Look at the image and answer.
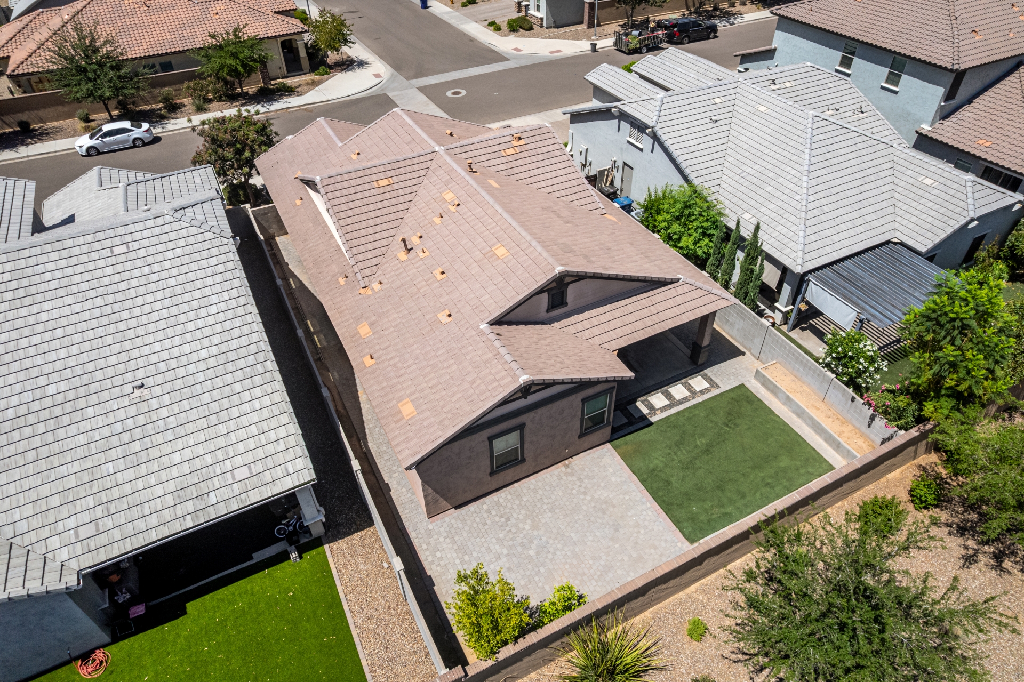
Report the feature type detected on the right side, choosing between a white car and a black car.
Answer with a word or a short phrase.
black car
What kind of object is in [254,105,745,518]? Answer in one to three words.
house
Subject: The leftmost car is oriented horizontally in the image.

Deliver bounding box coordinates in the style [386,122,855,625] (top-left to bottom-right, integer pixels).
[74,120,150,156]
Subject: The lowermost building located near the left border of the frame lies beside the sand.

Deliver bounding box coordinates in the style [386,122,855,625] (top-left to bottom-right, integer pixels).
[0,163,328,682]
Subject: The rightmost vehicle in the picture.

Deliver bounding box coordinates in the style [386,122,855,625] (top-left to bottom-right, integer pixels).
[658,13,720,44]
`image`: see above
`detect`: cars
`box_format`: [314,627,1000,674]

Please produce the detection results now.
[658,13,720,44]
[74,120,150,156]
